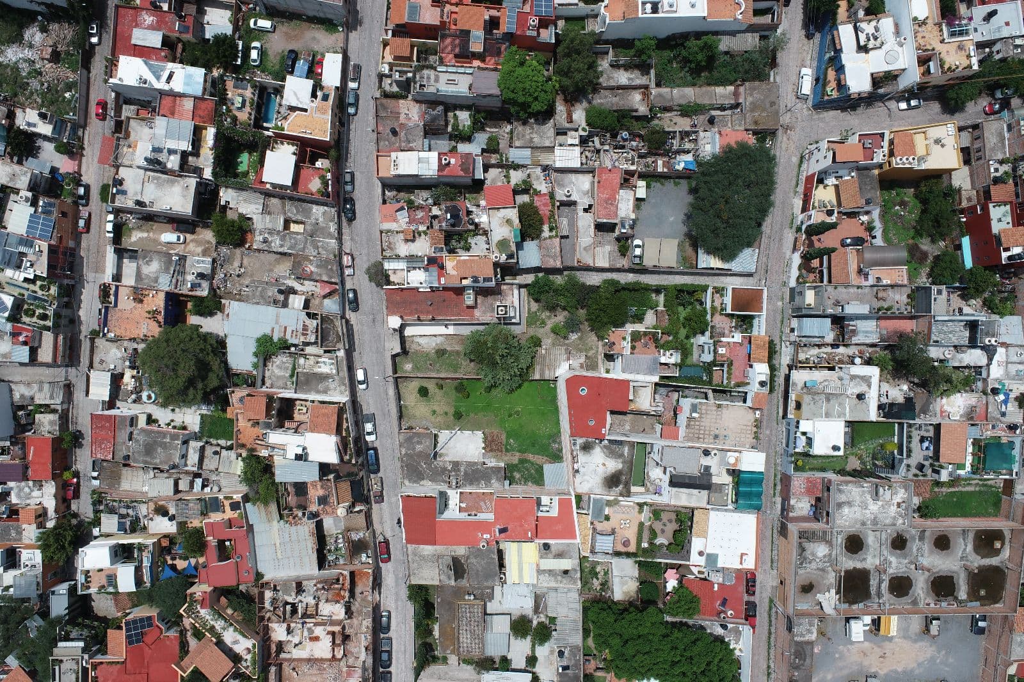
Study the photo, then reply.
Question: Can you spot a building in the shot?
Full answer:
Yes, this view includes a building.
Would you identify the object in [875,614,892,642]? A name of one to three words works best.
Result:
vehicle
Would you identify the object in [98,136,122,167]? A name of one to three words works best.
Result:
shed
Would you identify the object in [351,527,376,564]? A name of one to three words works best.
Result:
house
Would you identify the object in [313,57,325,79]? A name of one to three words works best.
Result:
vehicle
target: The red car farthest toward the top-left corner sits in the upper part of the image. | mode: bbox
[94,99,108,121]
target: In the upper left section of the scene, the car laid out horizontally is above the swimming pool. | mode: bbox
[250,18,276,32]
